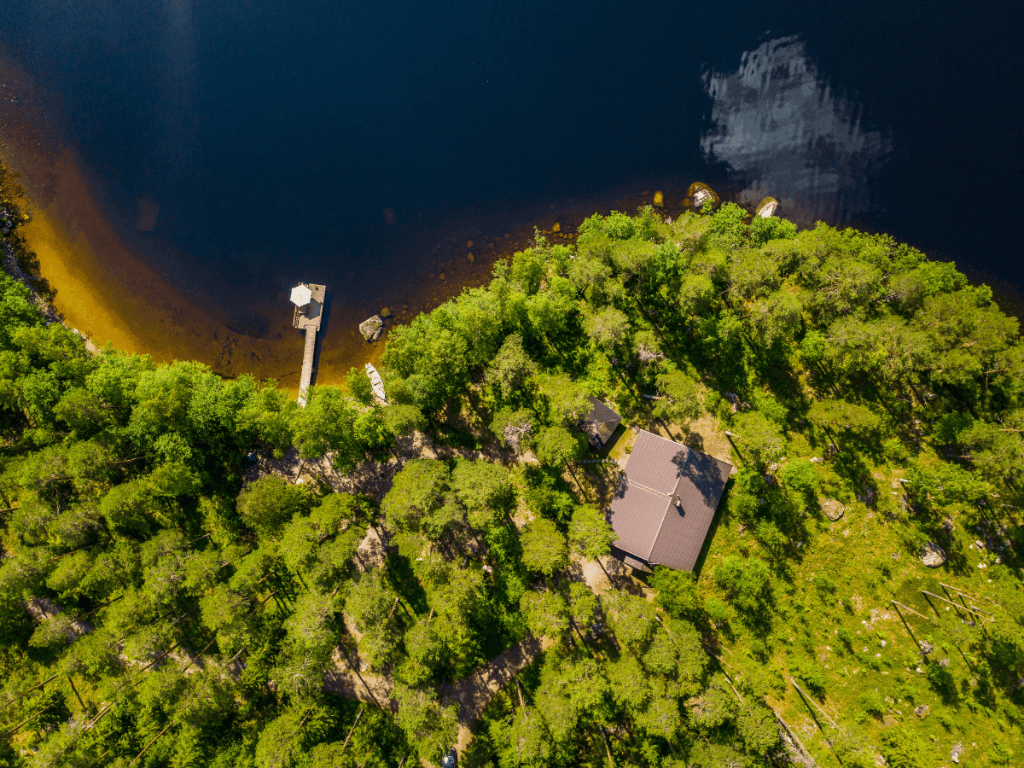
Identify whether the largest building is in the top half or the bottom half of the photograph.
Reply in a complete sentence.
The largest building is in the bottom half of the image.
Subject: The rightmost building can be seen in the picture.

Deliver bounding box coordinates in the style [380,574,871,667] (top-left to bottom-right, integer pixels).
[602,430,730,574]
